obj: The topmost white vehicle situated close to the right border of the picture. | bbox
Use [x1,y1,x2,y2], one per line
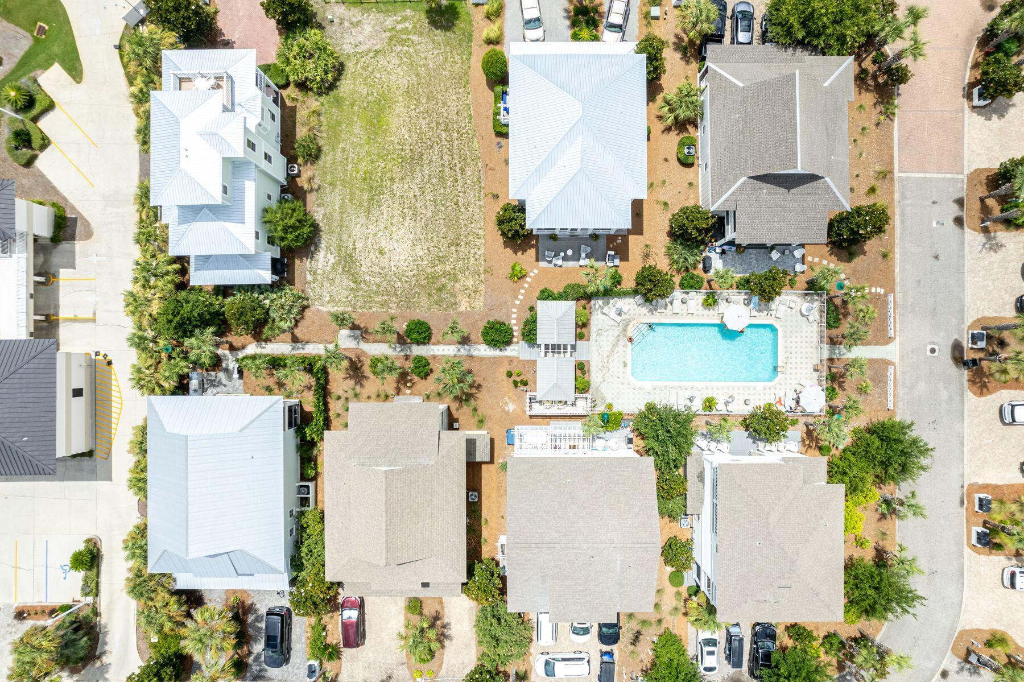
[999,401,1024,422]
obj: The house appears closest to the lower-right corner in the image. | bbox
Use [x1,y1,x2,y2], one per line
[680,448,845,622]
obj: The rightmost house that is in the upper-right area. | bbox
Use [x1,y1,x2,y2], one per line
[695,43,854,247]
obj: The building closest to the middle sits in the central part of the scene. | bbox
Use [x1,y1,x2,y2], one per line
[536,299,577,402]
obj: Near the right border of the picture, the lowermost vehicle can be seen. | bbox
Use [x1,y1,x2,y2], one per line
[1003,564,1024,587]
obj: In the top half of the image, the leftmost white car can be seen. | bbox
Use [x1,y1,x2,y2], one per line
[519,0,545,42]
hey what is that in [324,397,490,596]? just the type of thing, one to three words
house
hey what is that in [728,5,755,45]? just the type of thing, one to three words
car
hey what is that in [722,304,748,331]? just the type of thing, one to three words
umbrella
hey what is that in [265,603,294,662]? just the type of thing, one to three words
car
